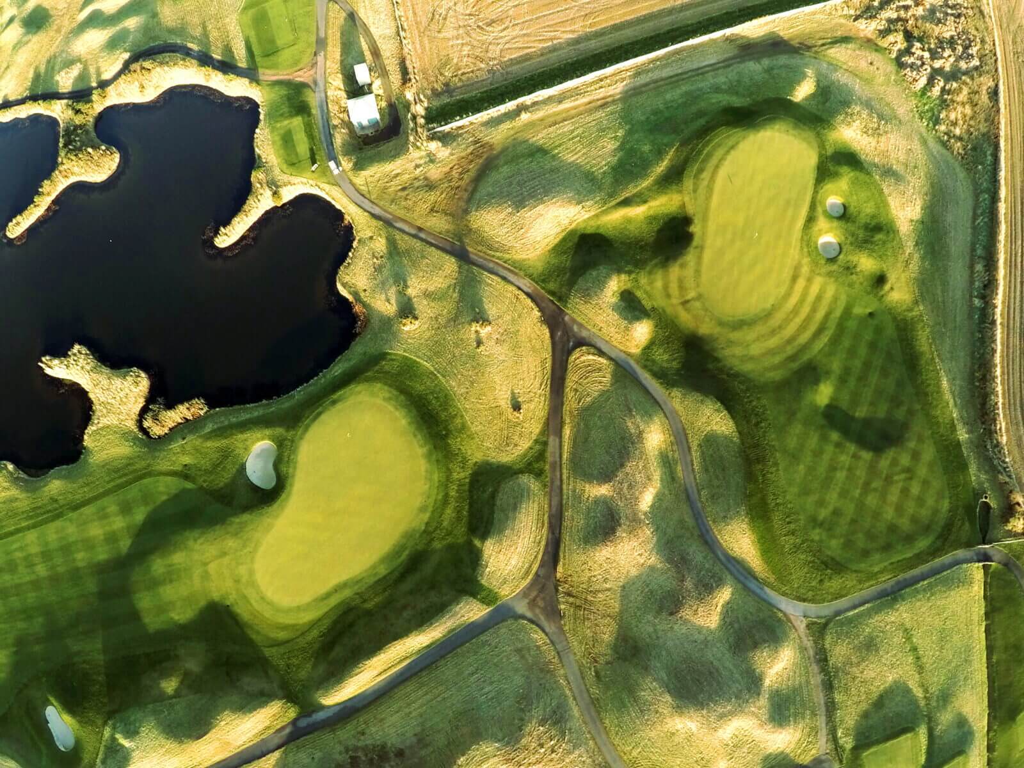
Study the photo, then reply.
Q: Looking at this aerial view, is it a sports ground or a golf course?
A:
golf course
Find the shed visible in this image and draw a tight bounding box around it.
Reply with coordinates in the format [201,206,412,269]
[346,95,383,135]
